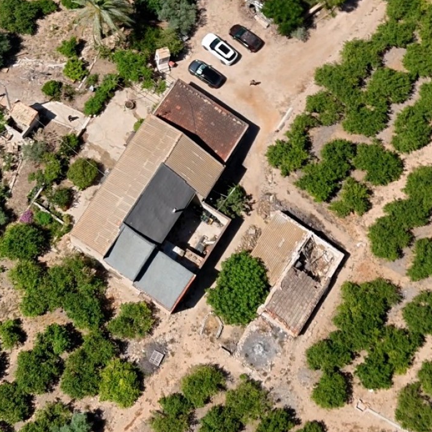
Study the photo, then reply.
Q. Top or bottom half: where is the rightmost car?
top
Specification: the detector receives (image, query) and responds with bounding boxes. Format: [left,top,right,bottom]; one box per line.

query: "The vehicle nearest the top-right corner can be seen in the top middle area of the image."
[225,24,267,56]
